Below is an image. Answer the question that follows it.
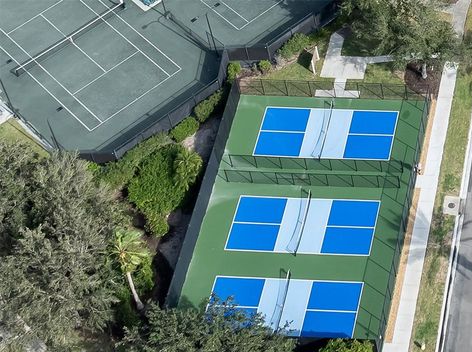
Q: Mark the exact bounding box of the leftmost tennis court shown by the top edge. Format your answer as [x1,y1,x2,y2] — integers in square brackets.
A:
[0,0,178,129]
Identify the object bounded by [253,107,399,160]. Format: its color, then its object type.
blue sports court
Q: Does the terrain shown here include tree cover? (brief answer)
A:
Yes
